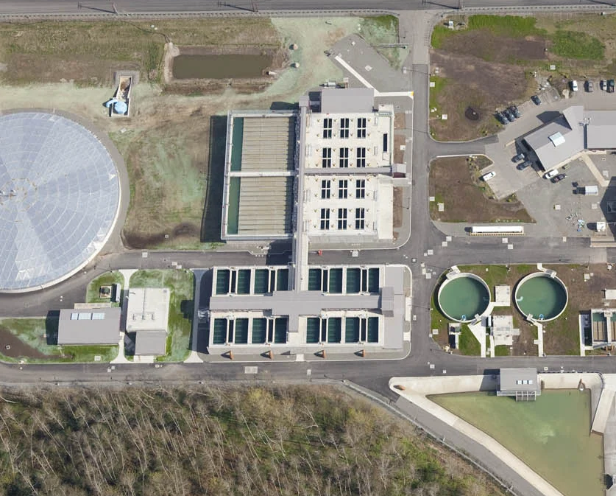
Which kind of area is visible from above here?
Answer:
industrial area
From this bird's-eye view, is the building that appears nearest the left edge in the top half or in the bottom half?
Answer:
bottom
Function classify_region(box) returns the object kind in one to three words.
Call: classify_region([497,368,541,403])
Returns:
building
